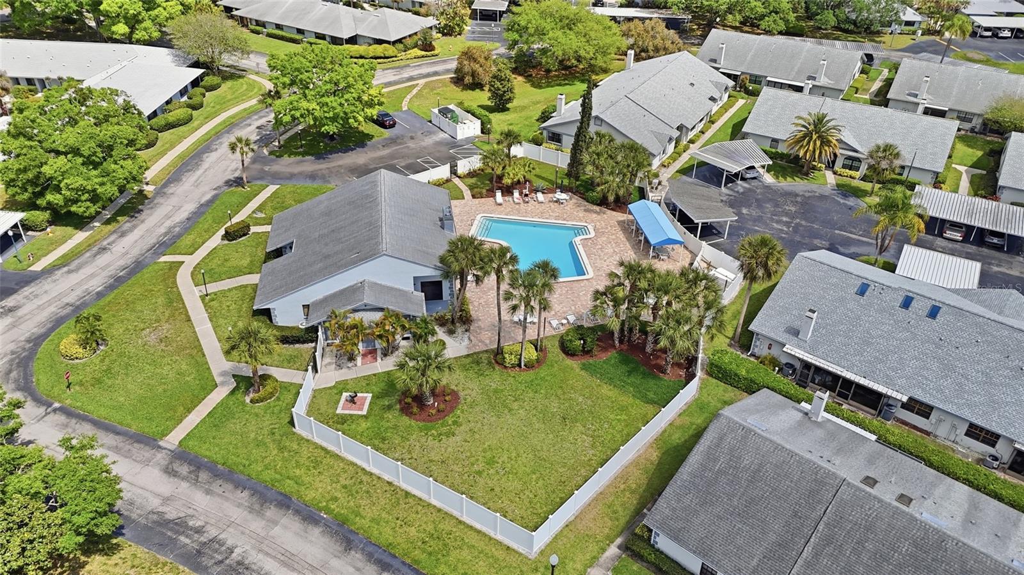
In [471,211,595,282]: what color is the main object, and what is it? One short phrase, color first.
blue swimming pool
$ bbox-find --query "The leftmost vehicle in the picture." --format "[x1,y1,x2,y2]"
[368,110,401,130]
